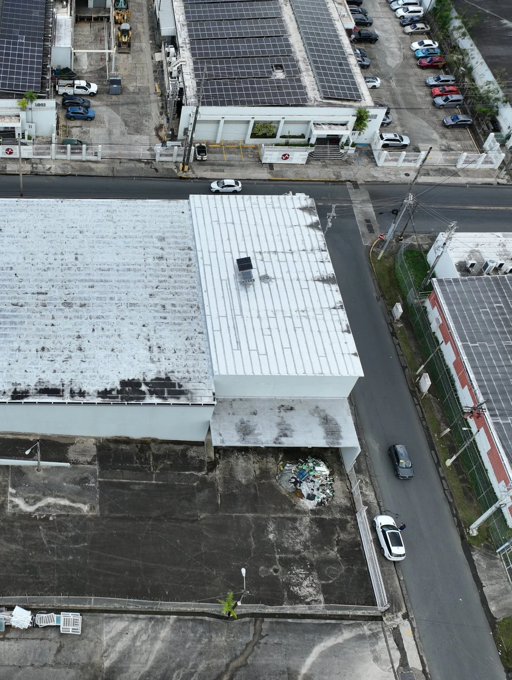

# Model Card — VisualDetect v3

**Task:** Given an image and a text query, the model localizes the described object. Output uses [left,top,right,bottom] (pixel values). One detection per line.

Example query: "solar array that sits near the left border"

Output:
[0,0,45,92]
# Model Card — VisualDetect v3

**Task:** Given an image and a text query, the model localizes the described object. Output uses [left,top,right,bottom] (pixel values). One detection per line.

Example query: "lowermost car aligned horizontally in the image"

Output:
[208,178,243,193]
